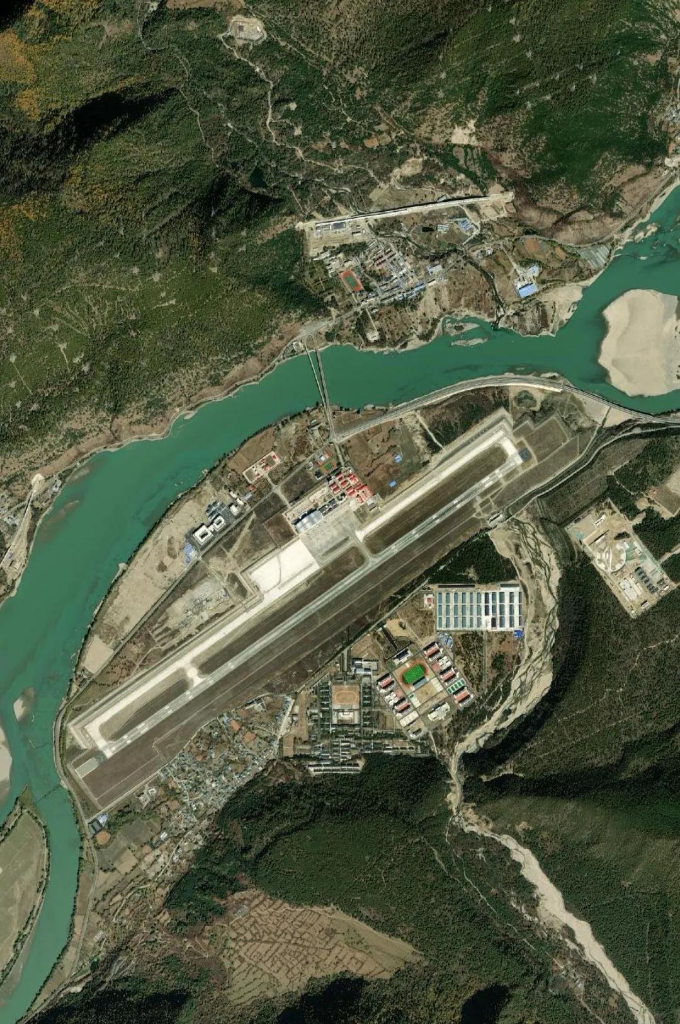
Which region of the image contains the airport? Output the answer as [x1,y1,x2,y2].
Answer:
[69,410,598,811]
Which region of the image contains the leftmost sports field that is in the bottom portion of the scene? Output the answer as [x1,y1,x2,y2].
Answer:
[332,685,360,709]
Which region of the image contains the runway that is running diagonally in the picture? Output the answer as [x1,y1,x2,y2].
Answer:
[110,460,516,752]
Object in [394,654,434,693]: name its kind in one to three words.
sports field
